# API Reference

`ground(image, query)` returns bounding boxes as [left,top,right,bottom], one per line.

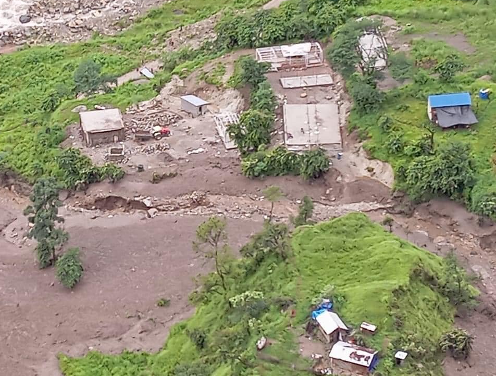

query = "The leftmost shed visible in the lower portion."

[317,310,347,343]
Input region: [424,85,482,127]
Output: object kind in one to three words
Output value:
house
